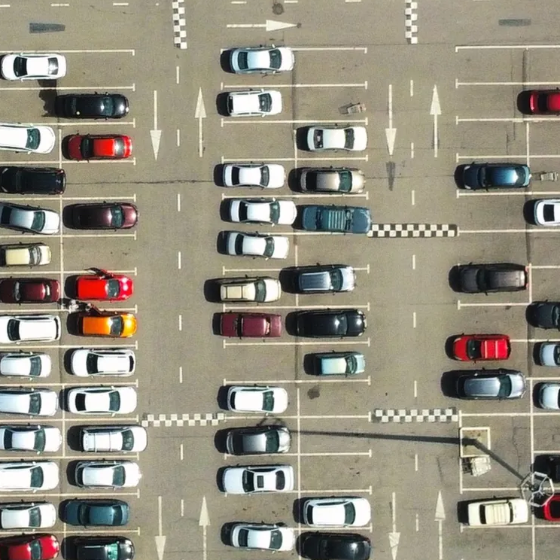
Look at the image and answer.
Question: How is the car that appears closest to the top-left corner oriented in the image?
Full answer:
What the image shows is the car that appears closest to the top-left corner lying horizontally.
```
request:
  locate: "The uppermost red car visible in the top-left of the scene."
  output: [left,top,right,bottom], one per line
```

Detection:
[64,131,133,162]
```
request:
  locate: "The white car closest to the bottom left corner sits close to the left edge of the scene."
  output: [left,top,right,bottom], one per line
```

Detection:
[0,501,56,533]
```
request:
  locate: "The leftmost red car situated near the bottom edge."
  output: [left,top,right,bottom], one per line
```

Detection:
[0,533,60,560]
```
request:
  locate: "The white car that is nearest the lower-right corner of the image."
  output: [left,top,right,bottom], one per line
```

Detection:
[466,496,528,529]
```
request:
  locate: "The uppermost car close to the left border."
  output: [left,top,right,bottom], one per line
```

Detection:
[1,51,67,82]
